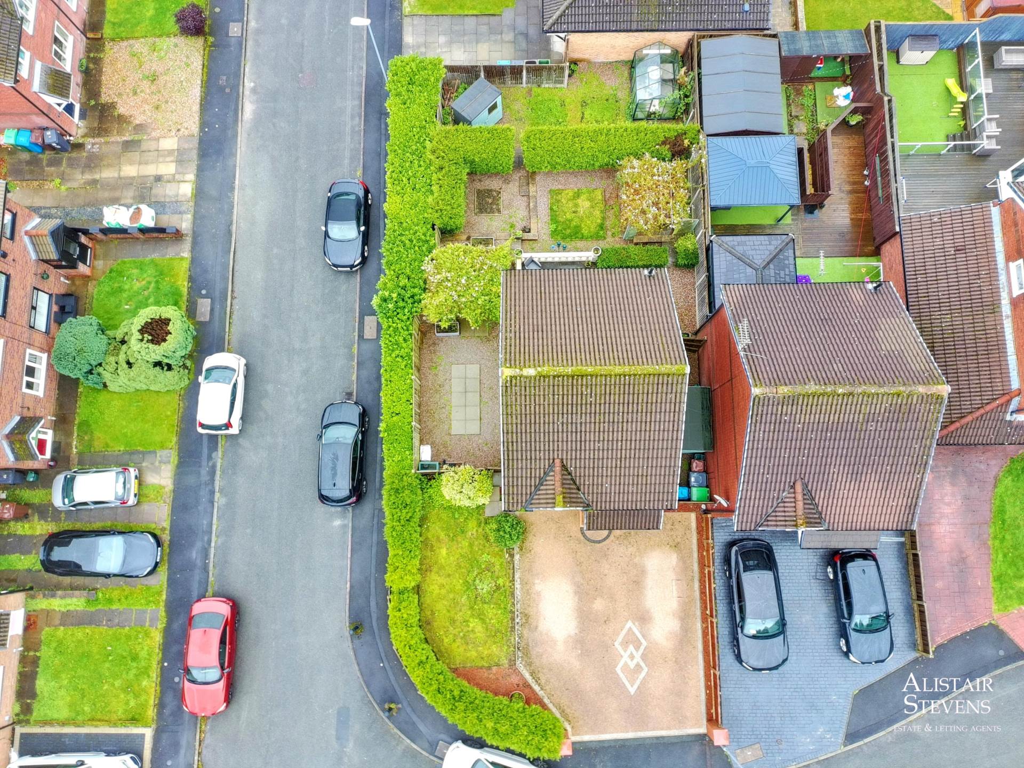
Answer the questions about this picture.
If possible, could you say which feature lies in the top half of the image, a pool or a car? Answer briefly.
car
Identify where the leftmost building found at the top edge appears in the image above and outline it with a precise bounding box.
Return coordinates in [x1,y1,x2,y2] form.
[0,0,89,141]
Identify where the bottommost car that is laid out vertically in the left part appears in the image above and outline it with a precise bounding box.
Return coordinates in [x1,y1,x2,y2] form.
[178,597,241,717]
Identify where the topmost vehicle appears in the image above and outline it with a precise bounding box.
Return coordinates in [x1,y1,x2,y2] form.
[318,178,370,271]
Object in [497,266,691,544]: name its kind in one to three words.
house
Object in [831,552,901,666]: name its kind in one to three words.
car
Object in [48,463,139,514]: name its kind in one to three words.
car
